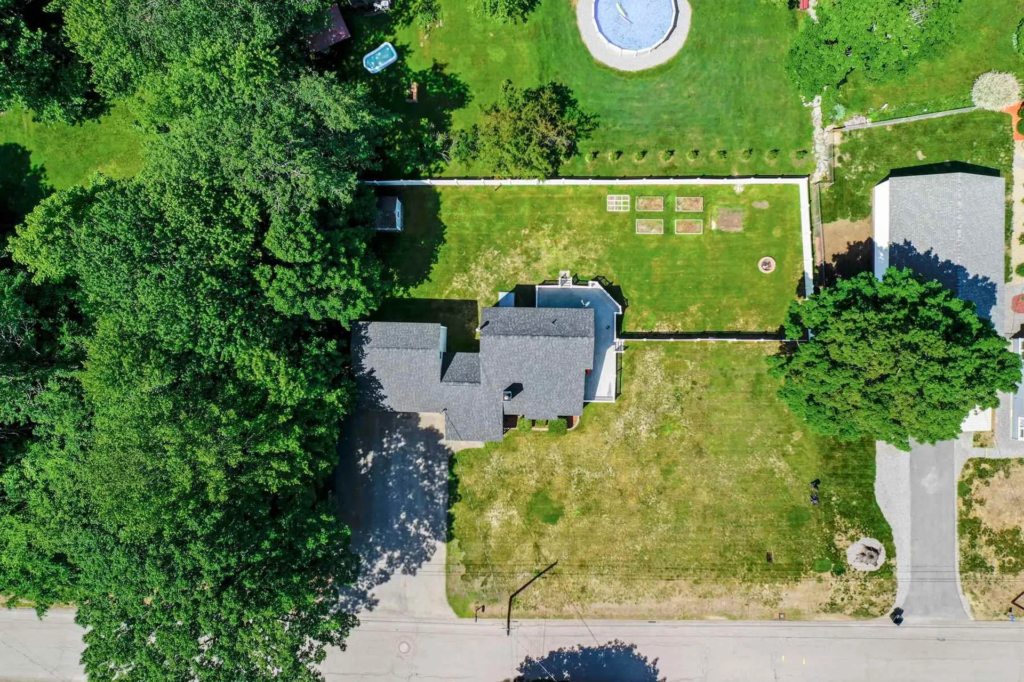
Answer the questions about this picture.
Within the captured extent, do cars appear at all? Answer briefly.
No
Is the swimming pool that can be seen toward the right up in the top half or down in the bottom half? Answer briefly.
top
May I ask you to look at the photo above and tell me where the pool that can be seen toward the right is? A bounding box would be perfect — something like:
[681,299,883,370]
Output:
[592,0,677,57]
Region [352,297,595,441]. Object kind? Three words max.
house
